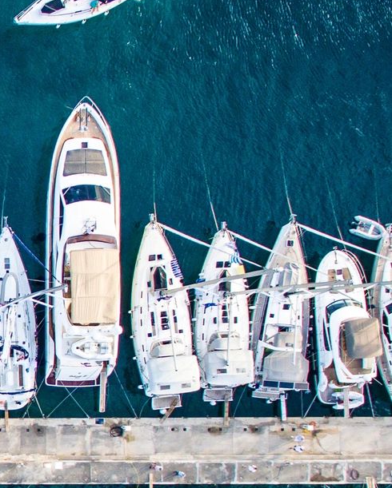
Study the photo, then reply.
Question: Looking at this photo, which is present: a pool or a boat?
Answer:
boat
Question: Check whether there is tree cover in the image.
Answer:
No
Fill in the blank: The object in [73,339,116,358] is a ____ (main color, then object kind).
white boat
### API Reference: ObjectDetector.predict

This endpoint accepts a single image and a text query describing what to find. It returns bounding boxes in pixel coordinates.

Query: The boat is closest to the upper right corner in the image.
[348,218,385,242]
